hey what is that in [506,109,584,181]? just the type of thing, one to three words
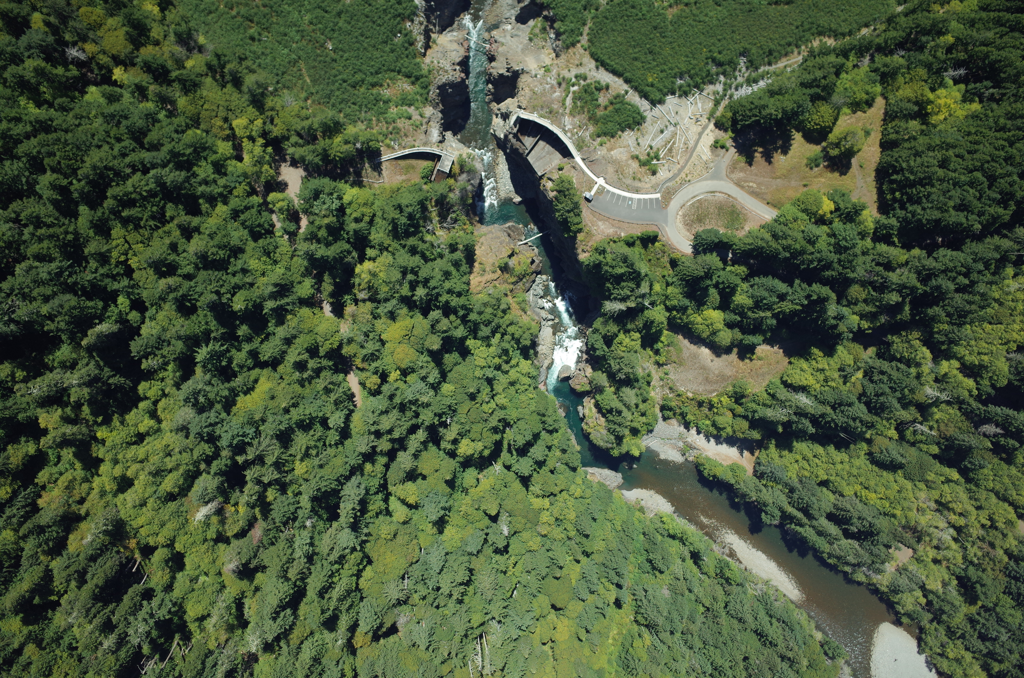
dam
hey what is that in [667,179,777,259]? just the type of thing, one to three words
roundabout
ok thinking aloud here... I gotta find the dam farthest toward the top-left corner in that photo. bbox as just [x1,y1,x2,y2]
[384,146,455,184]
